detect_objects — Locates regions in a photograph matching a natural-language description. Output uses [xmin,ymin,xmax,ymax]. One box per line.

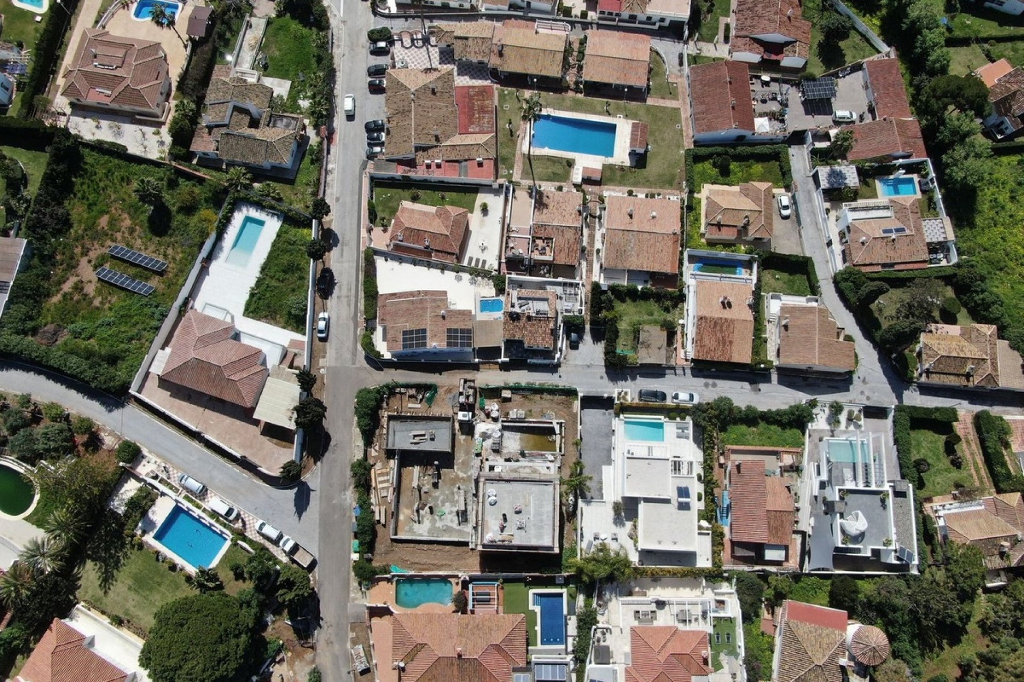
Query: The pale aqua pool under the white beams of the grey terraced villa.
[827,438,869,464]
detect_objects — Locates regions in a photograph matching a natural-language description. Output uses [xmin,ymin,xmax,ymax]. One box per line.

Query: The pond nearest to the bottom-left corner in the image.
[0,459,40,523]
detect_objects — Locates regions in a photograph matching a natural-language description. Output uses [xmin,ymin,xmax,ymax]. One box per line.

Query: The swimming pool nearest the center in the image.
[478,297,505,313]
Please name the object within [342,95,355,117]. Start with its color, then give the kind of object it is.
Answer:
white vehicle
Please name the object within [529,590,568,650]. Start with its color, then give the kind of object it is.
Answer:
blue swimming pool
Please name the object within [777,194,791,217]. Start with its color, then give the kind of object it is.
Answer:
white car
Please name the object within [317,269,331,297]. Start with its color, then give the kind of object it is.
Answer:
black car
